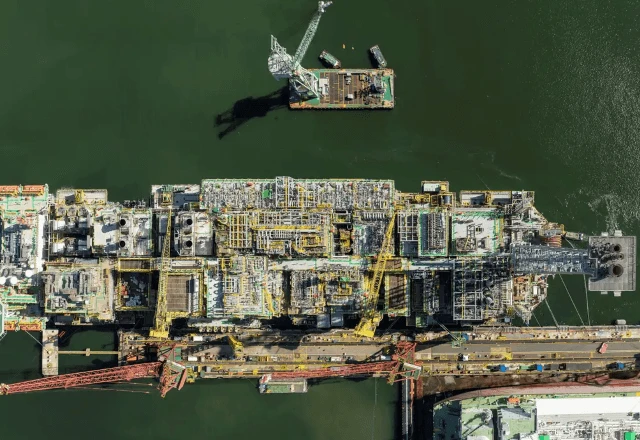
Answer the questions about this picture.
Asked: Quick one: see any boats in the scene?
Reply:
Yes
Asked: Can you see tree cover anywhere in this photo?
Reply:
No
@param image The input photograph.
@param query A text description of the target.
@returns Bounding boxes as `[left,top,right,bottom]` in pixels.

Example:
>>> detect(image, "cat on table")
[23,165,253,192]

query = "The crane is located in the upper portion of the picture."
[268,1,332,101]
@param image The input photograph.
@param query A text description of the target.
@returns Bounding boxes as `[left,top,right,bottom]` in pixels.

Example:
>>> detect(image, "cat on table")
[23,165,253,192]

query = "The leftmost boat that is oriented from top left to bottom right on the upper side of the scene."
[320,50,342,68]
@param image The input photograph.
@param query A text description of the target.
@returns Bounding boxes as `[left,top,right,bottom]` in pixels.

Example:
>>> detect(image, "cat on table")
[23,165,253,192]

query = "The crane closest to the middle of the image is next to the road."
[356,208,398,341]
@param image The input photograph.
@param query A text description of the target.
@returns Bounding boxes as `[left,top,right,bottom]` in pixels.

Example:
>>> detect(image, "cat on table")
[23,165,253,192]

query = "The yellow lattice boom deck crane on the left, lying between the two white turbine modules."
[148,205,178,343]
